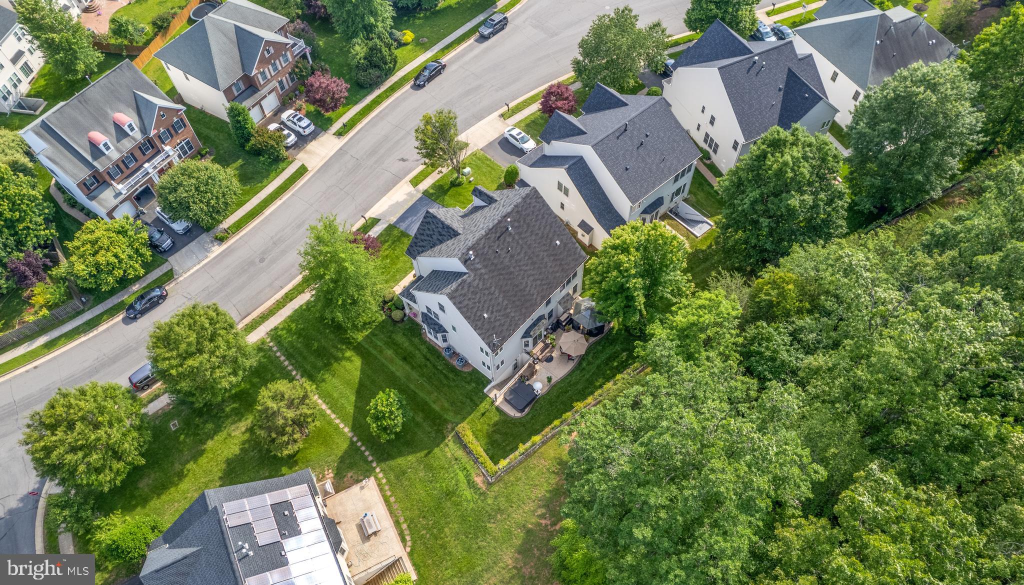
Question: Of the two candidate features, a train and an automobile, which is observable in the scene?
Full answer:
This aerial view contains an automobile.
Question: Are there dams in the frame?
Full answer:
No, I can see no dam in this picture.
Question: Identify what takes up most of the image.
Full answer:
The bulk of the photo consists of trees.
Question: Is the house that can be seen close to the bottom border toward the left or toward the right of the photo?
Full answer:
The house that can be seen close to the bottom border is on the left side of the image.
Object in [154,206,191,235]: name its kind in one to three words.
car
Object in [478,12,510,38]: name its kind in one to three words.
car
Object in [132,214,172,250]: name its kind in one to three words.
truck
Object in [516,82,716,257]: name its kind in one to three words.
house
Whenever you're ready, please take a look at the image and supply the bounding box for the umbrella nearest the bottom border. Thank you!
[558,333,589,360]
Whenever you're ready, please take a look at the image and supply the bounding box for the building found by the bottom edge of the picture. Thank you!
[140,467,403,585]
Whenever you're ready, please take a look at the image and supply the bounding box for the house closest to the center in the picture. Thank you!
[398,183,588,399]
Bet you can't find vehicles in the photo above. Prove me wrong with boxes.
[478,12,510,38]
[154,206,191,235]
[125,357,160,390]
[503,127,536,154]
[414,62,448,87]
[768,22,795,43]
[122,284,169,321]
[656,54,675,78]
[749,18,775,45]
[132,214,172,250]
[283,111,315,137]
